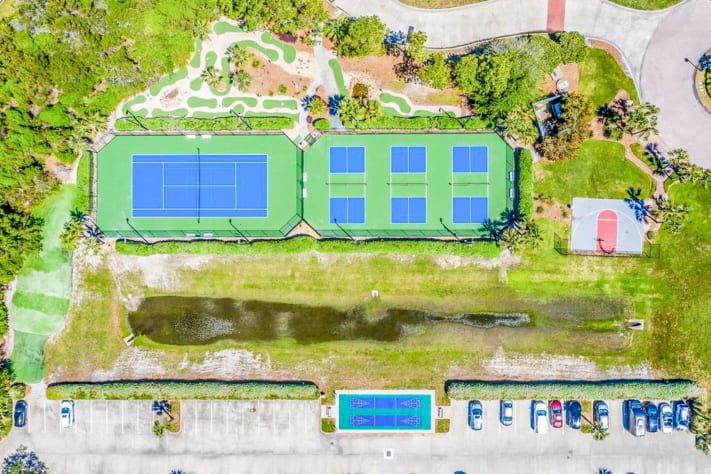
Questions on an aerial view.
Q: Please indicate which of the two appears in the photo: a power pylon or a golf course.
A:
golf course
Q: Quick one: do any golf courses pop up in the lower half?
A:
No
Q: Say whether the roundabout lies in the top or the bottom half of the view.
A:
top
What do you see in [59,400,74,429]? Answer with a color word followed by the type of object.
white car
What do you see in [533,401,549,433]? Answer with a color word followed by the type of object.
white car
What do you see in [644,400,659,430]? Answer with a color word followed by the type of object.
blue car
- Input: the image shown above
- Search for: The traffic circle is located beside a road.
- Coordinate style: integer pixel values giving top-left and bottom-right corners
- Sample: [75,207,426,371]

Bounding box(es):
[639,0,711,174]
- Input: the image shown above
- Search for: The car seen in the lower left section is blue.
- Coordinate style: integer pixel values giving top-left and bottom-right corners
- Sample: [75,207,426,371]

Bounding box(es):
[11,400,26,428]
